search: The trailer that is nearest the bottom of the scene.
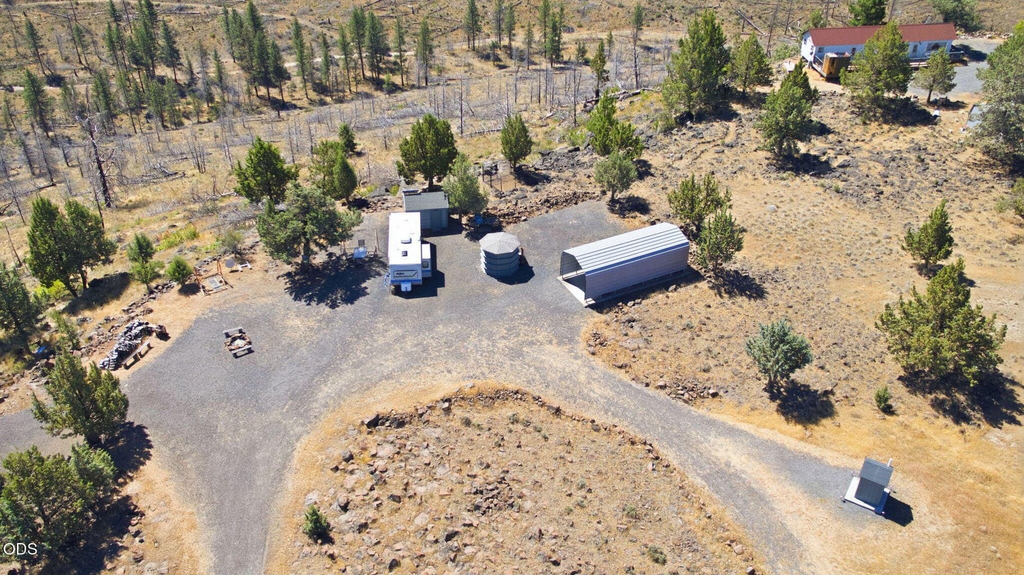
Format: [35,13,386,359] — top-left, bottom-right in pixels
[388,212,431,300]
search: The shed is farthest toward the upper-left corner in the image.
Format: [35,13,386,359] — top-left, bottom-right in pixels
[404,189,449,232]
